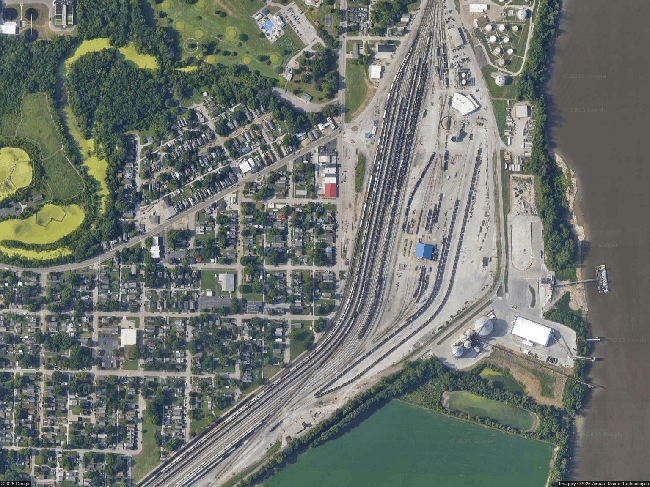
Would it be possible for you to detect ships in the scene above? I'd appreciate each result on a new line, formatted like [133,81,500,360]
[595,265,608,292]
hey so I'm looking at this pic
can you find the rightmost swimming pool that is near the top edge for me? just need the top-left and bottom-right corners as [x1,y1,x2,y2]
[255,10,284,43]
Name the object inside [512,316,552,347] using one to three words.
building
